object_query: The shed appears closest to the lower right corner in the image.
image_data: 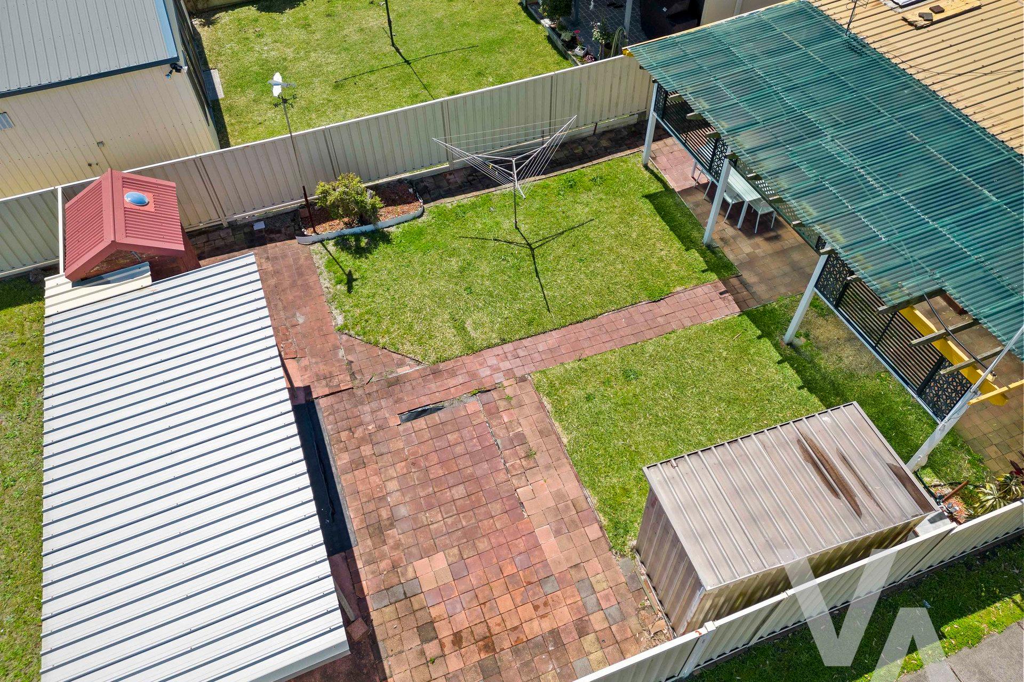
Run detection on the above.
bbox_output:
[630,395,938,634]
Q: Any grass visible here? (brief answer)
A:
Yes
